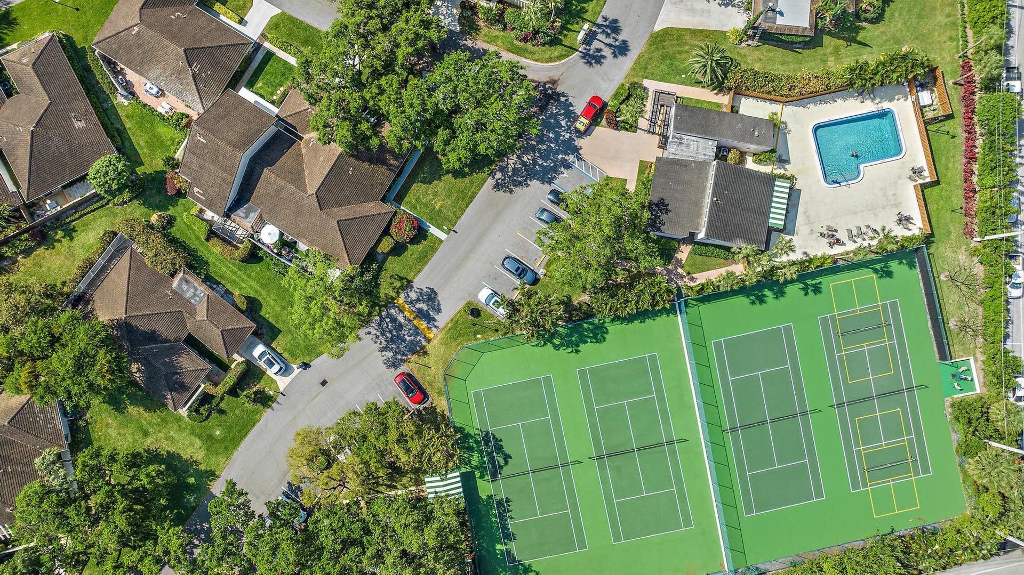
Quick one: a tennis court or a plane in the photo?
tennis court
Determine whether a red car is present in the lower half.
Yes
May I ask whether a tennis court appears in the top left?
No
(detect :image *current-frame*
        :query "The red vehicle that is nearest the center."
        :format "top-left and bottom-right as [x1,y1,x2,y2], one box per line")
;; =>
[393,371,424,406]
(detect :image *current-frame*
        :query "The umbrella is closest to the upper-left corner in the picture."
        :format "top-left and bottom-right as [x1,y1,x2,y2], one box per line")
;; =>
[257,224,276,243]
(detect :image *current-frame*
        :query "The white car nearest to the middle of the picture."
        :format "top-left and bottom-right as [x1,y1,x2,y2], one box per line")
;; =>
[476,288,510,318]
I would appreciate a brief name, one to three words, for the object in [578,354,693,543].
tennis court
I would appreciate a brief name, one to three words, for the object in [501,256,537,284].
car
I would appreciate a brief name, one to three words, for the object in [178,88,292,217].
house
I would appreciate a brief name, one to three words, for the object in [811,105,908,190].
swimming pool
